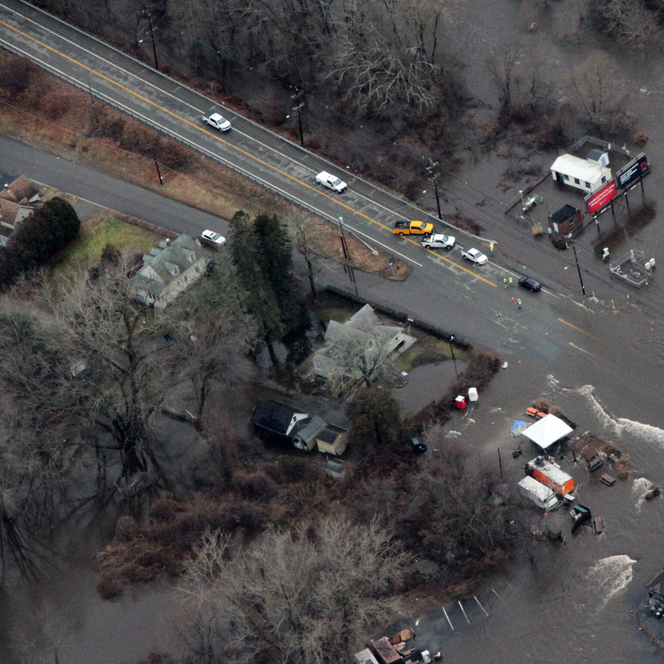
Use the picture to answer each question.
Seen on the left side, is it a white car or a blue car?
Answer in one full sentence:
What appears on the left side is a white car.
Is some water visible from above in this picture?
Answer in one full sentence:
Yes, water shows up in the scene.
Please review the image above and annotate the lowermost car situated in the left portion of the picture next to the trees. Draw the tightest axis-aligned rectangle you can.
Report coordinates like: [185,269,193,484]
[199,226,227,245]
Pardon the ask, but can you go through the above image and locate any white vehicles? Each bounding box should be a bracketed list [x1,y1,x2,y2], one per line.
[420,235,456,250]
[457,245,488,266]
[315,170,346,192]
[200,112,230,132]
[199,226,227,245]
[518,476,565,520]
